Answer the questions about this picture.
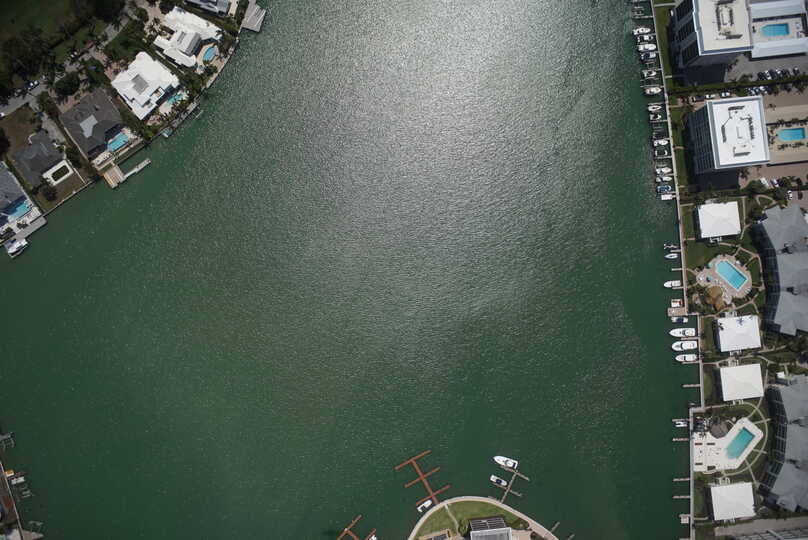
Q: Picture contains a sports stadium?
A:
No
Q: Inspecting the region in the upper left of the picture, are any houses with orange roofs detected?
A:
No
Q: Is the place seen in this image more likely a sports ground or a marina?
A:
marina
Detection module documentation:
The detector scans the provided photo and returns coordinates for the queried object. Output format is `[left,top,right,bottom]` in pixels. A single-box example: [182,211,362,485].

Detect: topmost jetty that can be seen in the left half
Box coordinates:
[241,0,267,33]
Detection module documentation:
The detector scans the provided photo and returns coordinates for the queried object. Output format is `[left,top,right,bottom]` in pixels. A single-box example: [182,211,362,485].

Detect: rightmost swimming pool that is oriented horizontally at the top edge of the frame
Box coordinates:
[761,22,791,37]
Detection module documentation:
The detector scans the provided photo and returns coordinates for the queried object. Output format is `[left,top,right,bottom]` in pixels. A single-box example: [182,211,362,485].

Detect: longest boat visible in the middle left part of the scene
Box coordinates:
[3,242,27,257]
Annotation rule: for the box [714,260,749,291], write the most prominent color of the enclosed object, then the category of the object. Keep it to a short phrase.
blue swimming pool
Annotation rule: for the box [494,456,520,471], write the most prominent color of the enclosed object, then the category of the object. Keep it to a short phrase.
white boat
